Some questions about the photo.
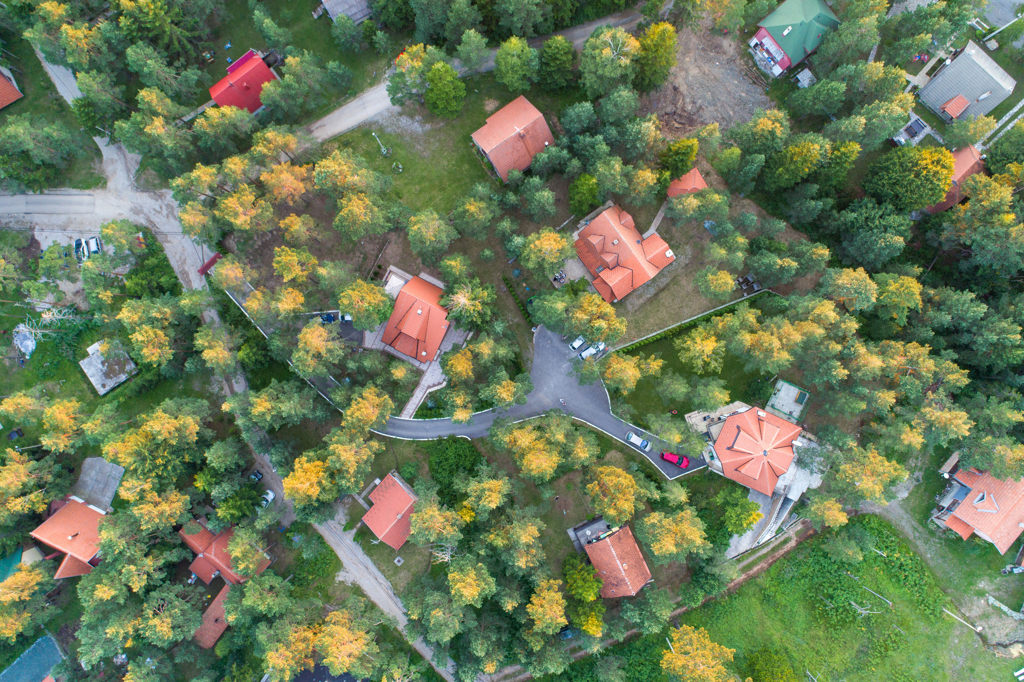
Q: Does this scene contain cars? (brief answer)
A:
Yes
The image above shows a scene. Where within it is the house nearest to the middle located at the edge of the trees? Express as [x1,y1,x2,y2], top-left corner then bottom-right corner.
[382,276,453,363]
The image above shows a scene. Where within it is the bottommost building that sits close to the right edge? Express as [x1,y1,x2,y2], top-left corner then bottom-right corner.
[929,447,1024,555]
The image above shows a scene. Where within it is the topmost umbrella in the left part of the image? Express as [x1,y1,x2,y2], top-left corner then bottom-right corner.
[385,275,405,299]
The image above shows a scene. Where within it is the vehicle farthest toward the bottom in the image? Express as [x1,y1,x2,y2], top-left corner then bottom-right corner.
[552,625,582,647]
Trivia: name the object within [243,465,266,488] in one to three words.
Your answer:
car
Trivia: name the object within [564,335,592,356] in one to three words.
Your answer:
car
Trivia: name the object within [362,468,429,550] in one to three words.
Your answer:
house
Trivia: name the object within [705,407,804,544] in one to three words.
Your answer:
house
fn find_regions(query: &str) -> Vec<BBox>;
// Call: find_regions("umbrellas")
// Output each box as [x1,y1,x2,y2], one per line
[385,275,405,299]
[24,547,44,562]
